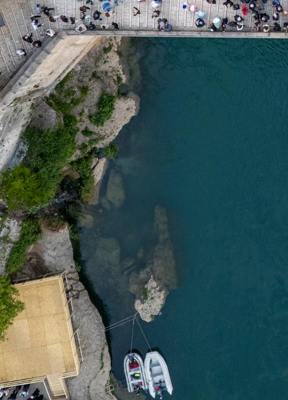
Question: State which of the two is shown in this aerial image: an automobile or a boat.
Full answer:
Looking from above, you can make out a boat.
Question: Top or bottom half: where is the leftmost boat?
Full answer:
It is in the bottom half that the leftmost boat appears.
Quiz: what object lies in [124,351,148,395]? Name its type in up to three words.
boat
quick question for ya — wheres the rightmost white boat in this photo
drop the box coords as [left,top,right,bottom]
[143,350,174,400]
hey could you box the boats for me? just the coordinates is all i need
[143,350,174,400]
[124,351,148,395]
